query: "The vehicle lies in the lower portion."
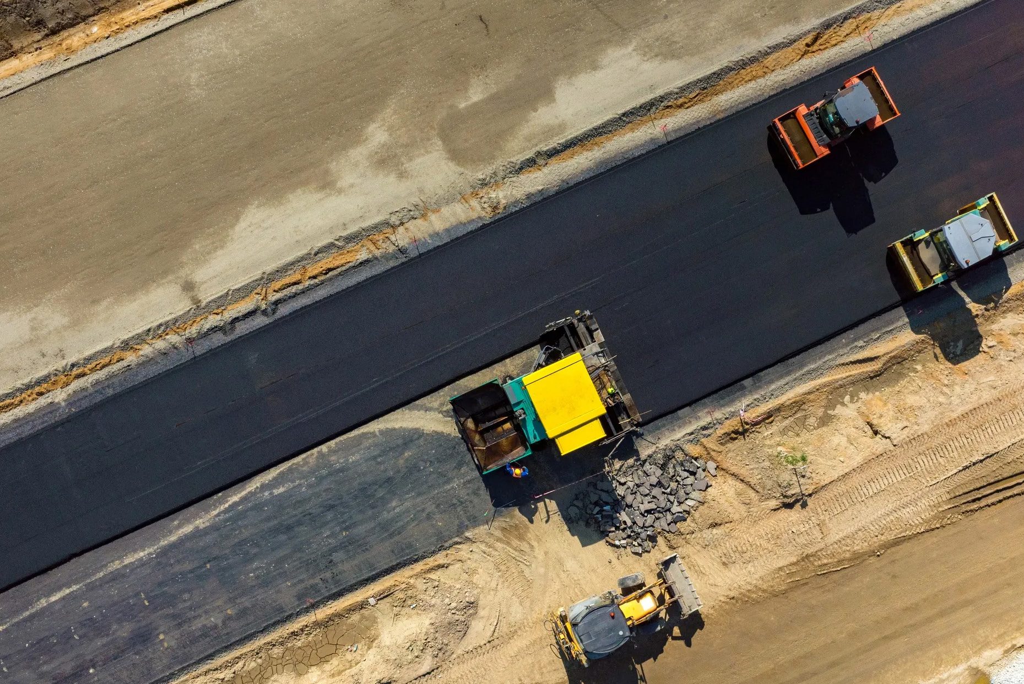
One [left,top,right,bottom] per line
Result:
[550,548,702,668]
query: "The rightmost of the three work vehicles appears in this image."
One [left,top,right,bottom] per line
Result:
[884,193,1020,292]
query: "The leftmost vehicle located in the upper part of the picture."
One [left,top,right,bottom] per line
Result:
[768,66,900,169]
